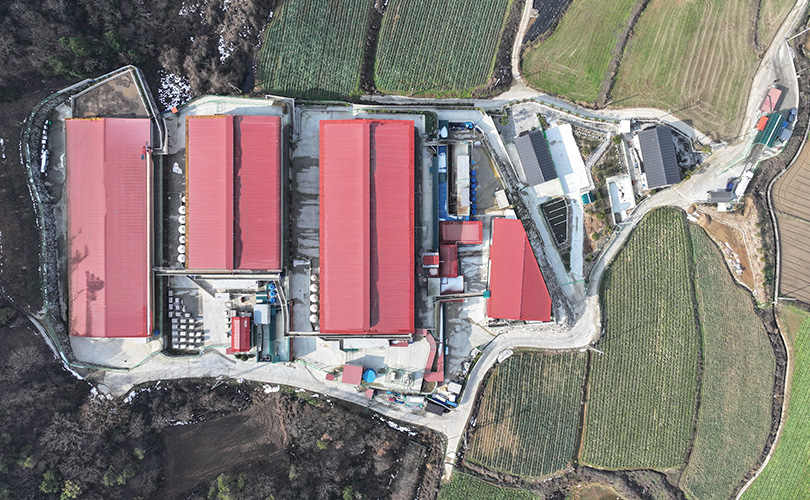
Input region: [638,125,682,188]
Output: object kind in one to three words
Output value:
house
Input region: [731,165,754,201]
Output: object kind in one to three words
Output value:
truck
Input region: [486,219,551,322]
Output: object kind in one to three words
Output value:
shed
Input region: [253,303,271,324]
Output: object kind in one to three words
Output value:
shed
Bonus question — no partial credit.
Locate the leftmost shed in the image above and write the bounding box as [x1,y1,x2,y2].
[65,118,153,338]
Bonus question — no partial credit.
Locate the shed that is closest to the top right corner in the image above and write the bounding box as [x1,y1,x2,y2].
[756,87,782,113]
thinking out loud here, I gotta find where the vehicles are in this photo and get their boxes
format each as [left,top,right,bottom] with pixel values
[723,177,734,191]
[731,165,754,201]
